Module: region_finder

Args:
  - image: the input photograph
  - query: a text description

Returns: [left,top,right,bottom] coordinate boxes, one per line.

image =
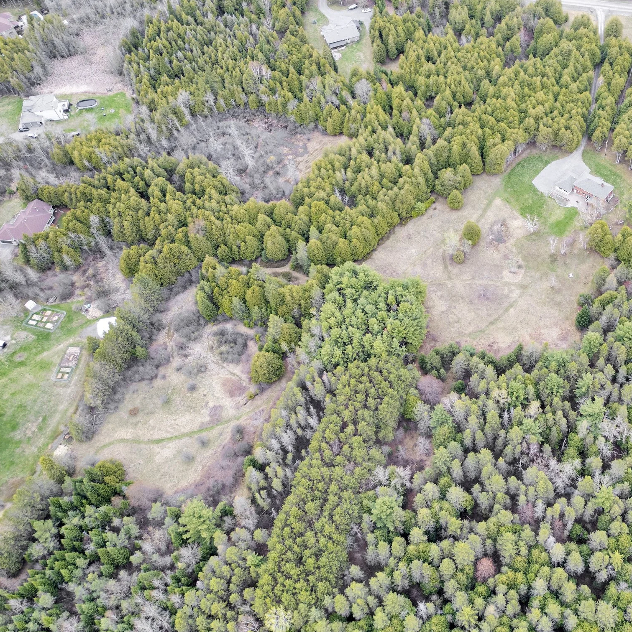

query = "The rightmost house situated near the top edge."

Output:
[322,16,360,52]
